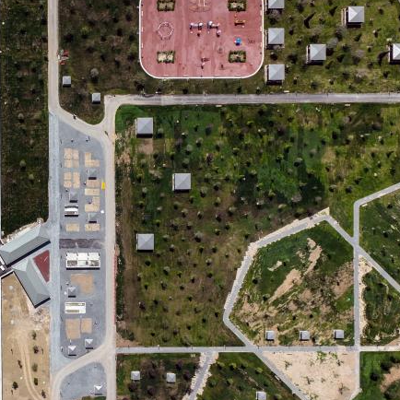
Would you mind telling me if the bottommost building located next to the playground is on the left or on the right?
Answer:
right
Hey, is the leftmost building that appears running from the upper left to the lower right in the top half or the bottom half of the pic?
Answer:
bottom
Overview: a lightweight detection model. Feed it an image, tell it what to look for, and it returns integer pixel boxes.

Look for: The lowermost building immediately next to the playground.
[265,65,285,84]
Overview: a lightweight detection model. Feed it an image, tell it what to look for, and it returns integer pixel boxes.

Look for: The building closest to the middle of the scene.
[172,173,190,191]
